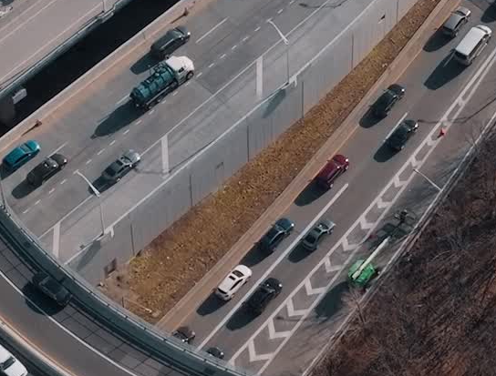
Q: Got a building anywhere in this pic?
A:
No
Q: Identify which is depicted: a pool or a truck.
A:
truck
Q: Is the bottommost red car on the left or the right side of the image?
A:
right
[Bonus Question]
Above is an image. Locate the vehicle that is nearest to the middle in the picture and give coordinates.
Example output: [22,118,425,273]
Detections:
[258,216,296,254]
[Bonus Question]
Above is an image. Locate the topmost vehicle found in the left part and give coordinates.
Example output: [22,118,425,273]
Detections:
[148,25,190,59]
